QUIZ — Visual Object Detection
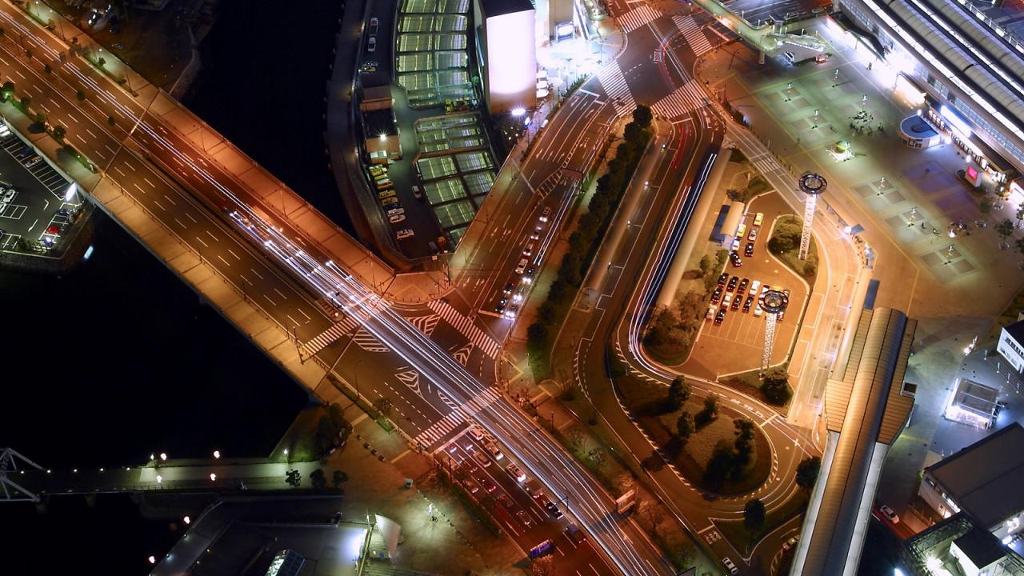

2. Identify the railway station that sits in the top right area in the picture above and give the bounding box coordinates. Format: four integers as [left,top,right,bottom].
[816,0,1024,178]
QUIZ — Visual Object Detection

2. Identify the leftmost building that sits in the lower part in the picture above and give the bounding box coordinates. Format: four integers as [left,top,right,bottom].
[200,533,277,576]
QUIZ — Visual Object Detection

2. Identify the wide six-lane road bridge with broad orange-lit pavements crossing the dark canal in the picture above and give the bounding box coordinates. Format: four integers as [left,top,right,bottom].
[88,86,395,397]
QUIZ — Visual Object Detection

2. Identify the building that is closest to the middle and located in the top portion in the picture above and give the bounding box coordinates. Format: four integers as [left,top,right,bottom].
[414,110,500,257]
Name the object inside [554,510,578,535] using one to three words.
truck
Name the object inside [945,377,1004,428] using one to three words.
building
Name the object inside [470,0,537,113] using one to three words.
building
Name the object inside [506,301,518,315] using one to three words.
vehicle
